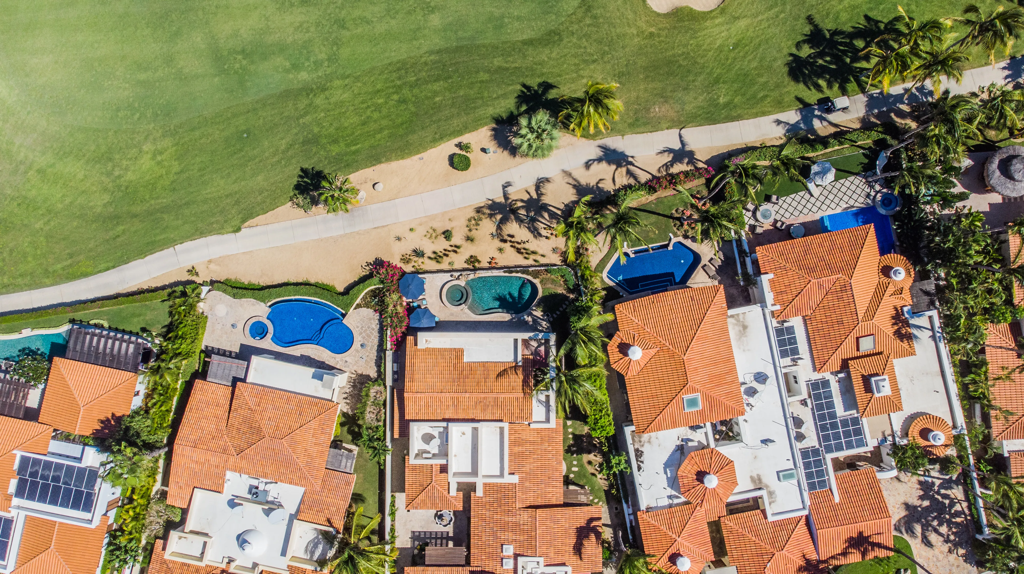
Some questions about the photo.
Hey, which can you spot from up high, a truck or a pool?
pool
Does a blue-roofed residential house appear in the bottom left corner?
No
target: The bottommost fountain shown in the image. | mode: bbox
[437,511,454,528]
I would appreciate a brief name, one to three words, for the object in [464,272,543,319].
swimming pool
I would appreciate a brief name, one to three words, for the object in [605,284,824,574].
house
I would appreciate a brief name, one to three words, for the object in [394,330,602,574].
house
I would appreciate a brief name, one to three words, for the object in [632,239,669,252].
swimming pool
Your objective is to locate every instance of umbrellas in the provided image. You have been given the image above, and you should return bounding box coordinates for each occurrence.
[810,161,836,186]
[409,306,436,332]
[398,274,425,300]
